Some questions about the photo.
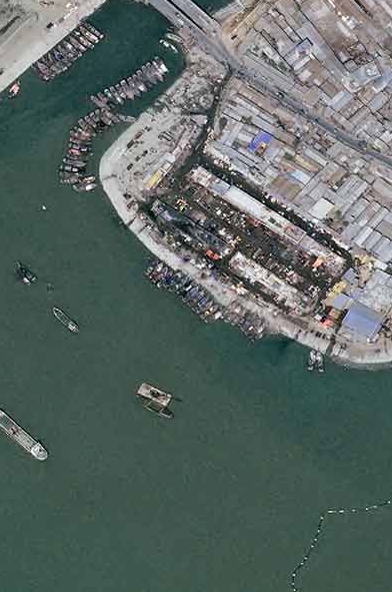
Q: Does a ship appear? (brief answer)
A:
Yes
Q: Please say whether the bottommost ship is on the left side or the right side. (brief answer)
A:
left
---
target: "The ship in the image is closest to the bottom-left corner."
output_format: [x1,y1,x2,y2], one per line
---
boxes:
[0,410,49,462]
